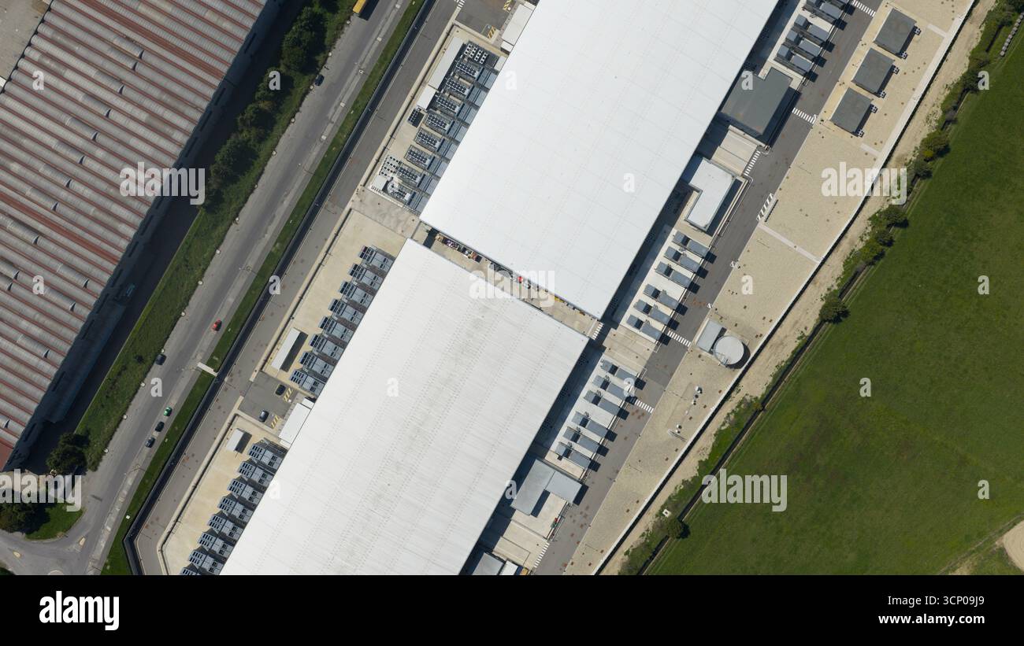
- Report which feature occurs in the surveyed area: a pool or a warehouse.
warehouse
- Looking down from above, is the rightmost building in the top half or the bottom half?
top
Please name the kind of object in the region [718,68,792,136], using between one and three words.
building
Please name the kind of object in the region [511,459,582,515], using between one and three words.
building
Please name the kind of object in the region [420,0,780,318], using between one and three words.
warehouse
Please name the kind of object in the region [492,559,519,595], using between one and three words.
shed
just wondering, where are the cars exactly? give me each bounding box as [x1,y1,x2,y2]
[213,320,222,331]
[315,75,324,86]
[156,353,165,365]
[259,410,269,422]
[146,437,155,448]
[276,384,286,395]
[155,421,164,432]
[163,406,172,417]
